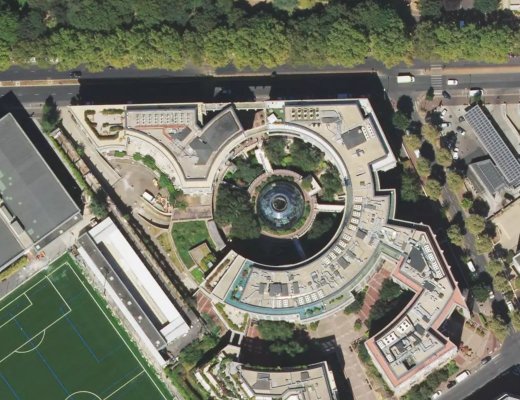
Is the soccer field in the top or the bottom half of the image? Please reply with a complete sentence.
Seen from above, the soccer field lies in the bottom half of the view.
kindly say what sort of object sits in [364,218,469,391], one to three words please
building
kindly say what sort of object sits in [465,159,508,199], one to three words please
building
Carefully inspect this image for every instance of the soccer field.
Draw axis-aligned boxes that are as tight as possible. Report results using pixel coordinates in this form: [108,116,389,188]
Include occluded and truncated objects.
[0,251,172,400]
